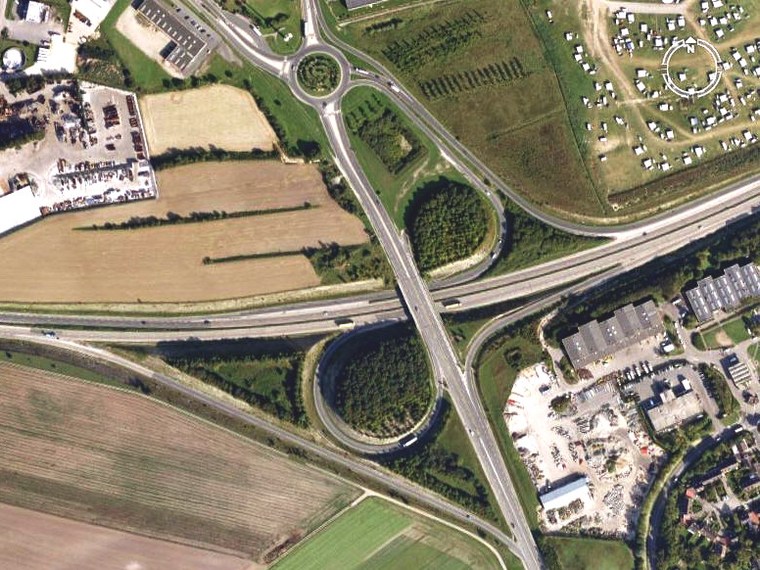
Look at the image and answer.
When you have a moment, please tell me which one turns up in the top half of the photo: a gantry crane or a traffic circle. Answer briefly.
traffic circle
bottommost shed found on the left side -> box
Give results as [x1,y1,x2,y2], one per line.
[0,184,41,230]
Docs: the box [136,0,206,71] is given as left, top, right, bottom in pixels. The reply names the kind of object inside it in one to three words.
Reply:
building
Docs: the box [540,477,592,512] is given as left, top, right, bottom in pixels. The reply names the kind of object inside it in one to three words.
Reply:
barn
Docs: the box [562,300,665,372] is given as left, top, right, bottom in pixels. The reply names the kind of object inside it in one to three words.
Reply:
building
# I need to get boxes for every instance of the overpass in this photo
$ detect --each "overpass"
[391,258,446,344]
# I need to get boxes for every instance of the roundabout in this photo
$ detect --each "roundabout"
[287,42,352,107]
